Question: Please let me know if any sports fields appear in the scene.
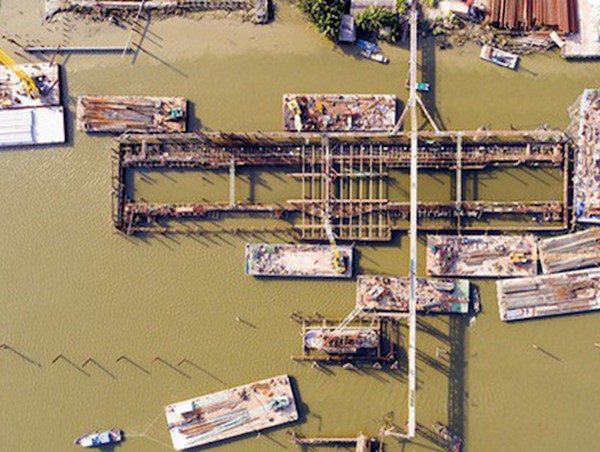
No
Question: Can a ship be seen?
Yes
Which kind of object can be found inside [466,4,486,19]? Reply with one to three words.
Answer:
work vehicle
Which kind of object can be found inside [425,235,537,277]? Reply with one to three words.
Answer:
ship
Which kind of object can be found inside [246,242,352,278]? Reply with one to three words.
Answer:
ship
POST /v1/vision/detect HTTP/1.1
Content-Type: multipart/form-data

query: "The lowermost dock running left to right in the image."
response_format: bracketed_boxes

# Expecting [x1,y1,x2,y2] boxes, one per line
[292,429,384,452]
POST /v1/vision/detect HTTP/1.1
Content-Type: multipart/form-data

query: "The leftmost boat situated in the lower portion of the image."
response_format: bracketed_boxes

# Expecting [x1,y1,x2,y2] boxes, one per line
[74,429,124,447]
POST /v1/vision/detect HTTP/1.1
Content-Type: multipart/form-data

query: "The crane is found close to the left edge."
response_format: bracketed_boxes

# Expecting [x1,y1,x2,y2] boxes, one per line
[0,53,45,103]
